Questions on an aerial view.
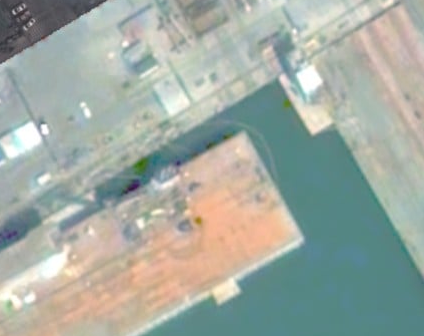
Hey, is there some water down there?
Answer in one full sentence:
Yes, water shows up in the scene.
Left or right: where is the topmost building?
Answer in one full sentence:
The topmost building sits on the left side.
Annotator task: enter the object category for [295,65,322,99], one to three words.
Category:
building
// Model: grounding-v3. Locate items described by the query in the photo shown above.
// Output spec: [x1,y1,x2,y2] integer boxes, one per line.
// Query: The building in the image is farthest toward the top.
[118,7,161,46]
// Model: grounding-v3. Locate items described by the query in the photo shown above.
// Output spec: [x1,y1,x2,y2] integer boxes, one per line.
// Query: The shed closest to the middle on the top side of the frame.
[153,75,191,117]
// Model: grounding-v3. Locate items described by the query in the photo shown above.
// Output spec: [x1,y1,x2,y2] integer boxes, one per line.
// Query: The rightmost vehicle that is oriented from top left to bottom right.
[79,101,93,119]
